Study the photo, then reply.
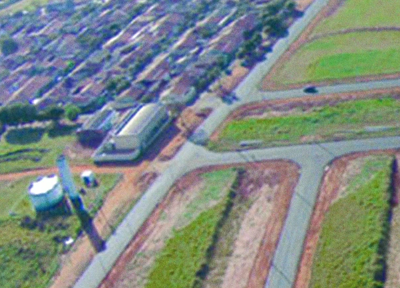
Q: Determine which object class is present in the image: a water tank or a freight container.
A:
water tank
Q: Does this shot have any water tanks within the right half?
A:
No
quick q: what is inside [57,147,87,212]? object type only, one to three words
water tower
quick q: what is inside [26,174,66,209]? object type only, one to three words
water tank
